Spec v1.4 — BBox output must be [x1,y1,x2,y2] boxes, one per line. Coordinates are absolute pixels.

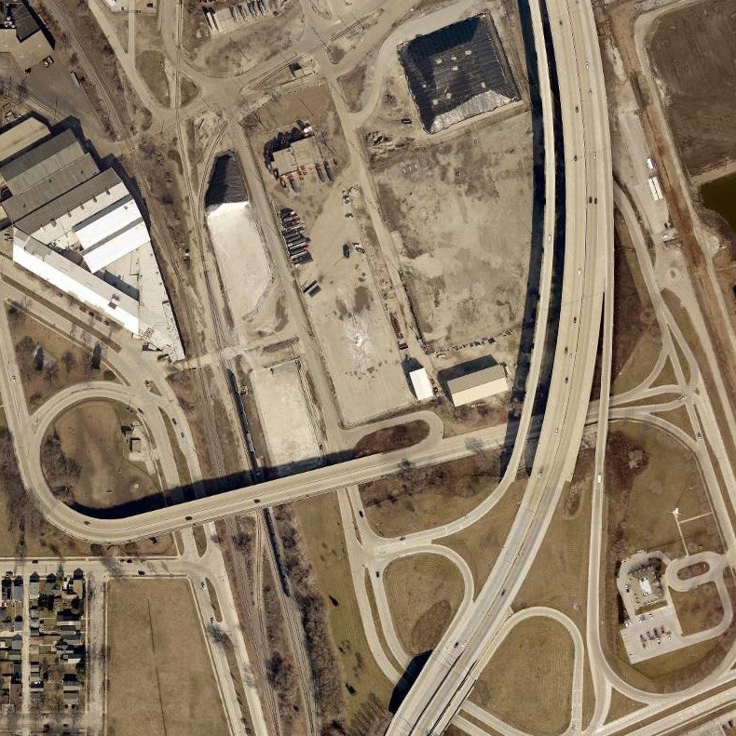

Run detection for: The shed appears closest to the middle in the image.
[409,367,433,401]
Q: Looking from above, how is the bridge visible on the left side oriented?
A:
from left to right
